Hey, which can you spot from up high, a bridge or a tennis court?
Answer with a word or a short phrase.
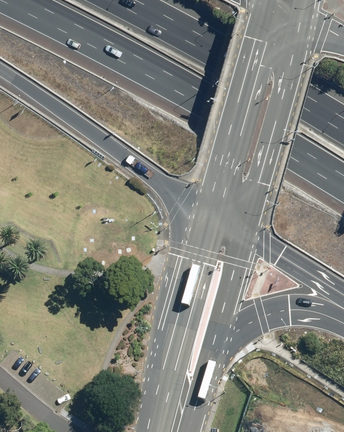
bridge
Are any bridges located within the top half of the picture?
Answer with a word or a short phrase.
Yes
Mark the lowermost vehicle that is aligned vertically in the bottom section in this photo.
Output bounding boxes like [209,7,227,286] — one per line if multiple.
[196,359,216,401]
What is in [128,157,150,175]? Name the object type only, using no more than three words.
vehicle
